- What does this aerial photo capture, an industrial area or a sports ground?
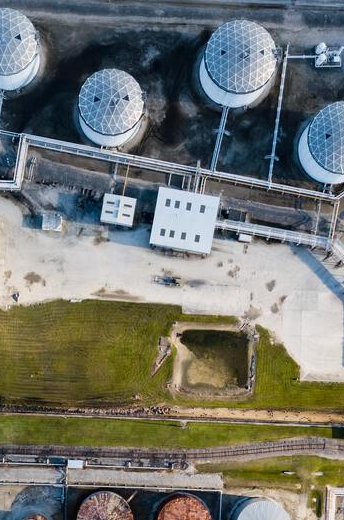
industrial area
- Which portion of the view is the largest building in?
center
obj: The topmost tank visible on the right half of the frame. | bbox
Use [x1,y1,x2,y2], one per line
[199,18,281,110]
